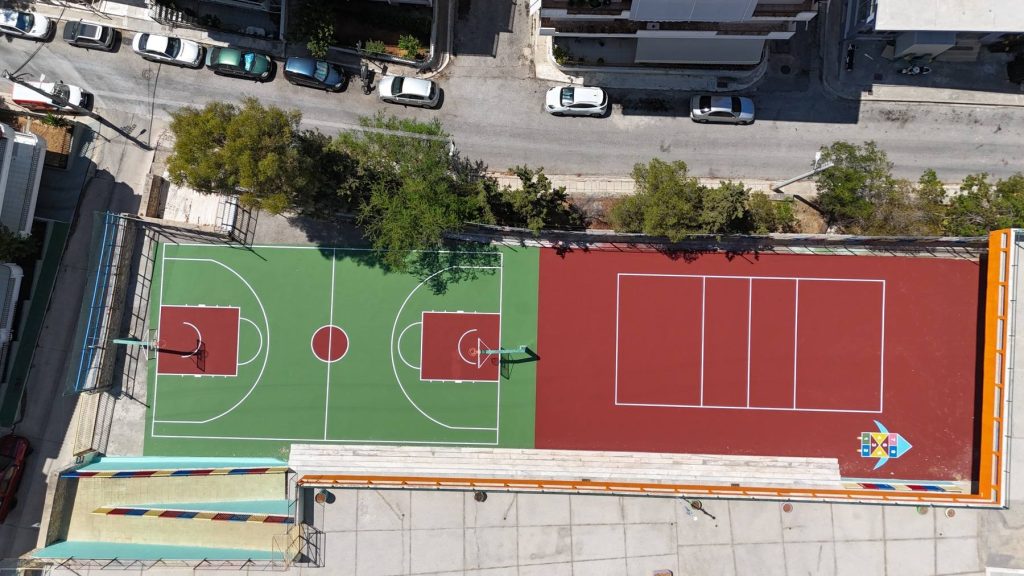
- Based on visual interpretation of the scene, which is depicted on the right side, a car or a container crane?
car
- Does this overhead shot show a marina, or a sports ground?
sports ground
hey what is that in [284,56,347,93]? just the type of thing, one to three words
car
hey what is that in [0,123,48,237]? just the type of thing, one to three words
building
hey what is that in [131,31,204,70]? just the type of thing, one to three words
car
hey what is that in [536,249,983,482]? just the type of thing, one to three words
sports court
